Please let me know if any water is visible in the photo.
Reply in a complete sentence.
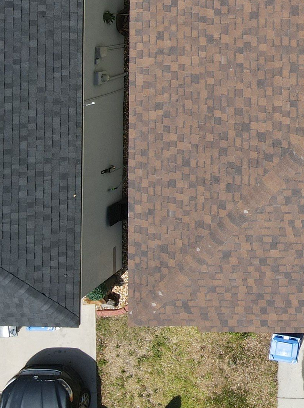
No, no water is visible.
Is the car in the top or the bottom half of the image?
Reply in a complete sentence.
The car is in the bottom half of the image.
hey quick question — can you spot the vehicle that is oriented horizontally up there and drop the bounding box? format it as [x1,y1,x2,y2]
[1,363,96,408]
